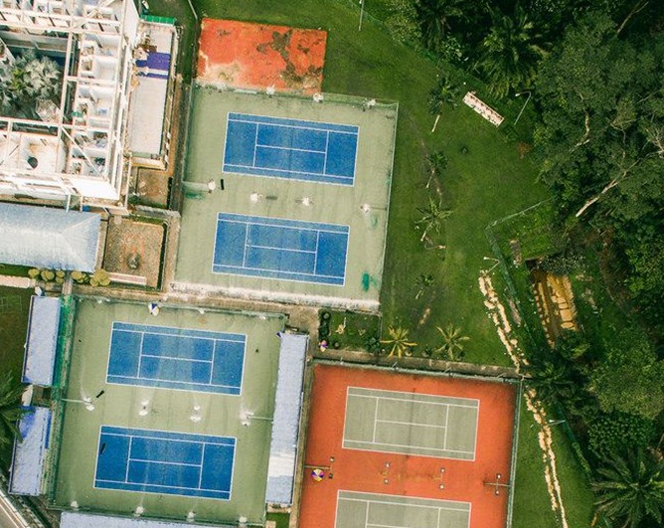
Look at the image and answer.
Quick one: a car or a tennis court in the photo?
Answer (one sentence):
This aerial view contains a tennis court.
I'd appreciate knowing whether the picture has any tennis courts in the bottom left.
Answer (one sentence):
Yes, a tennis court shows up in the bottom left.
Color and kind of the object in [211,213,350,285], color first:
blue tennis court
